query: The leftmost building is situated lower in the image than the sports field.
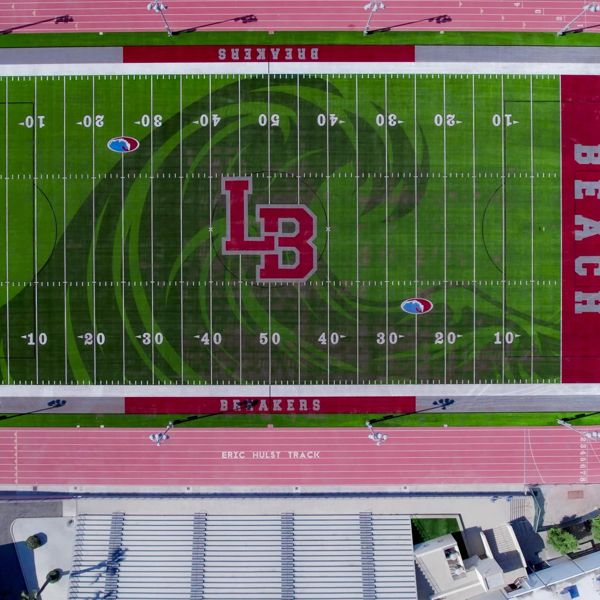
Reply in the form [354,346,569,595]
[412,534,481,600]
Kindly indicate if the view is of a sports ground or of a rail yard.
sports ground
